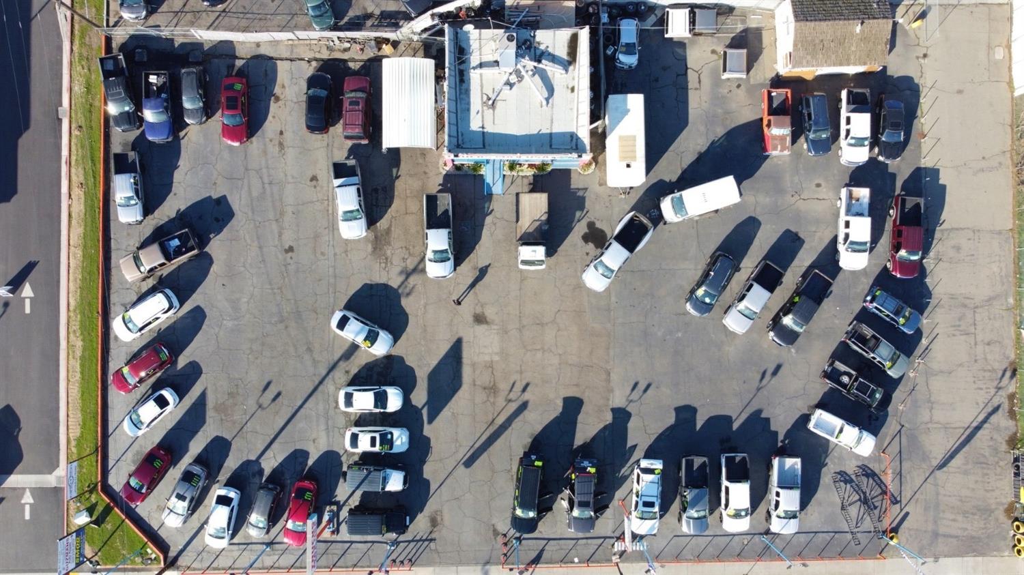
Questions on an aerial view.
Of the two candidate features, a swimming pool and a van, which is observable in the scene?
van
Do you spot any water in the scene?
No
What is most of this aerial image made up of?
paved ground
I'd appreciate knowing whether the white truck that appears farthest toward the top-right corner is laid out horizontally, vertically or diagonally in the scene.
vertically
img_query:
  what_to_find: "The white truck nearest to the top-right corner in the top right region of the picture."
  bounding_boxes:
[837,87,874,168]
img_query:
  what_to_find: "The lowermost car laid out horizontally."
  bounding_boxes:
[344,506,409,538]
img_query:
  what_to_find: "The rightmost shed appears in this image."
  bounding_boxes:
[777,0,895,78]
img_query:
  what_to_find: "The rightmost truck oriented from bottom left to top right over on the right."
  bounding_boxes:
[771,268,837,347]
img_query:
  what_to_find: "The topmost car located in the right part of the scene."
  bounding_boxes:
[614,19,641,71]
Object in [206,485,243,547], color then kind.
white car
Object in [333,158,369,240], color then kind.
white truck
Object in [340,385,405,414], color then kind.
white car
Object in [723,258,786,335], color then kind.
white truck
